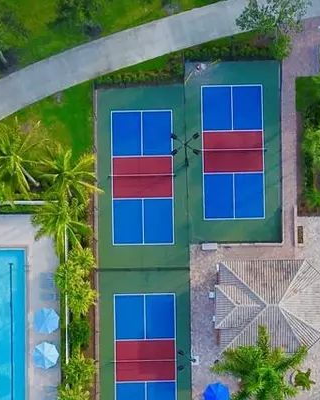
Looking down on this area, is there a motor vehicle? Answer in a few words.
No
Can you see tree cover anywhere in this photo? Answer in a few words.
Yes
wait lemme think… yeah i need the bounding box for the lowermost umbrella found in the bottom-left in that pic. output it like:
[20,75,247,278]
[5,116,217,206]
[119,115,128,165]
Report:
[34,343,59,367]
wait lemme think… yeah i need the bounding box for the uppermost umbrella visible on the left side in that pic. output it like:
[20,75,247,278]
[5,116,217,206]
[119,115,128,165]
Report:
[34,307,59,333]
